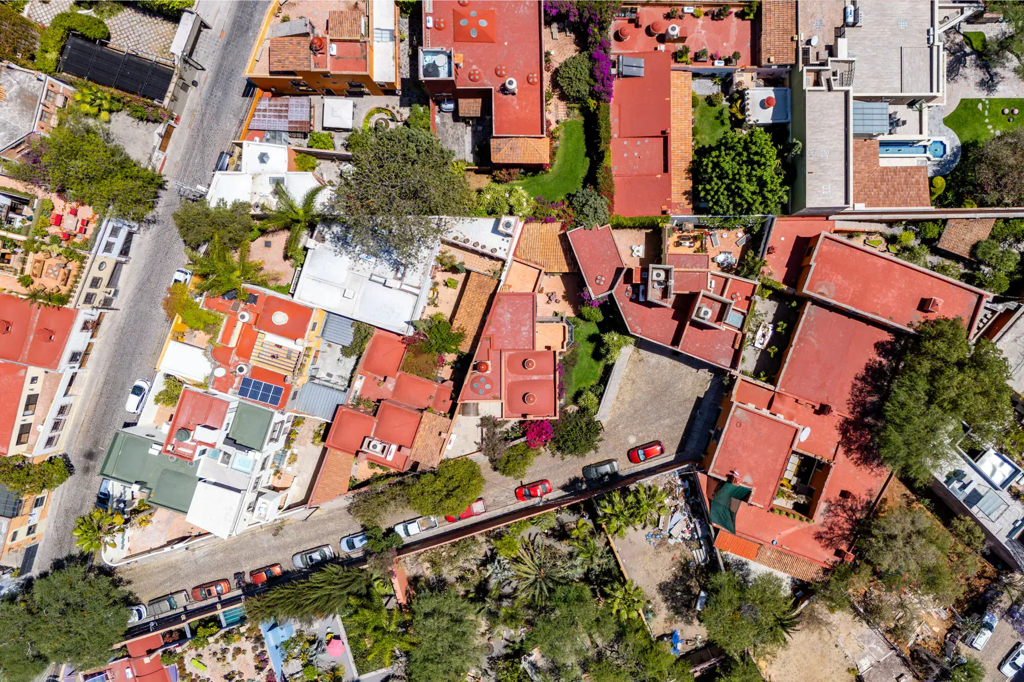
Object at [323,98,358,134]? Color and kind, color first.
white gazebo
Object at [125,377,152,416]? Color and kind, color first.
white car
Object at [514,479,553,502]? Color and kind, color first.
red car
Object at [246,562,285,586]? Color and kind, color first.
red car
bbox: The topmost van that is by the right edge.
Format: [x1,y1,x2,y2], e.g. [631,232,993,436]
[962,610,1001,655]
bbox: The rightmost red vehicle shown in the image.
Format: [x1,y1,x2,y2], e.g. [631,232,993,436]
[626,440,667,464]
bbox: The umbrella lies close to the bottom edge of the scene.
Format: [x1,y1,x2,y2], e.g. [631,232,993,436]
[325,637,346,658]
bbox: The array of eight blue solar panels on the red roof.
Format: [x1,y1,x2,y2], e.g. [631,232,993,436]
[238,376,284,406]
